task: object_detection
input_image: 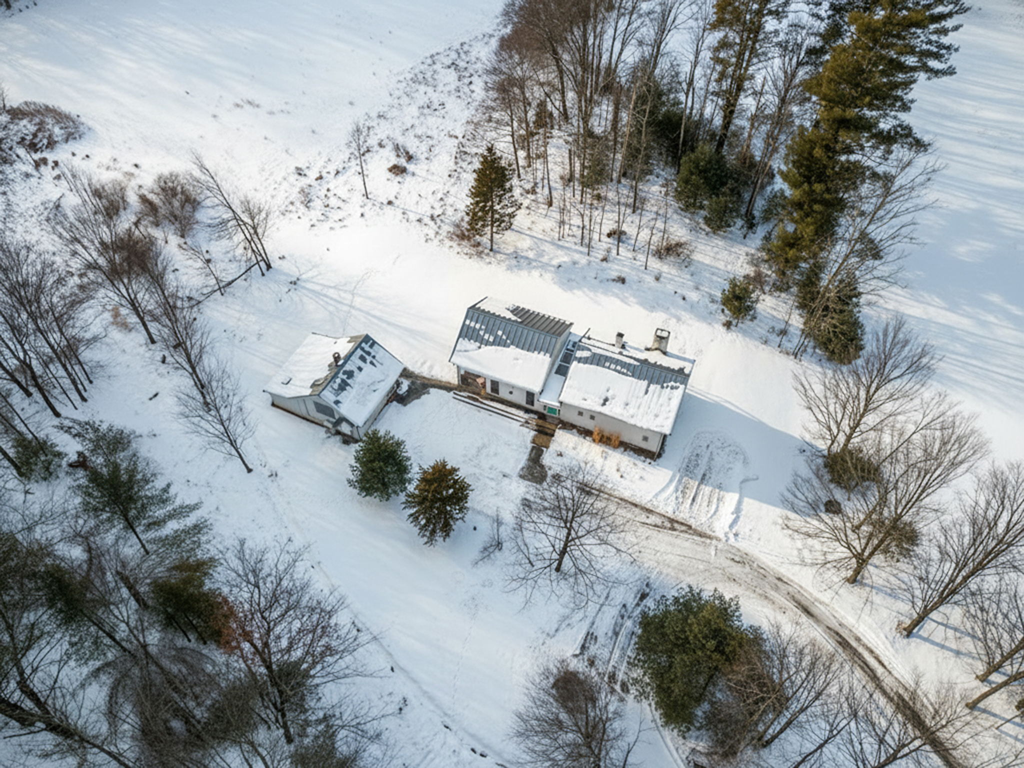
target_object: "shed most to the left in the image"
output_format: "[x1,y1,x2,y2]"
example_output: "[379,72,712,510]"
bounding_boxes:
[261,334,404,441]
